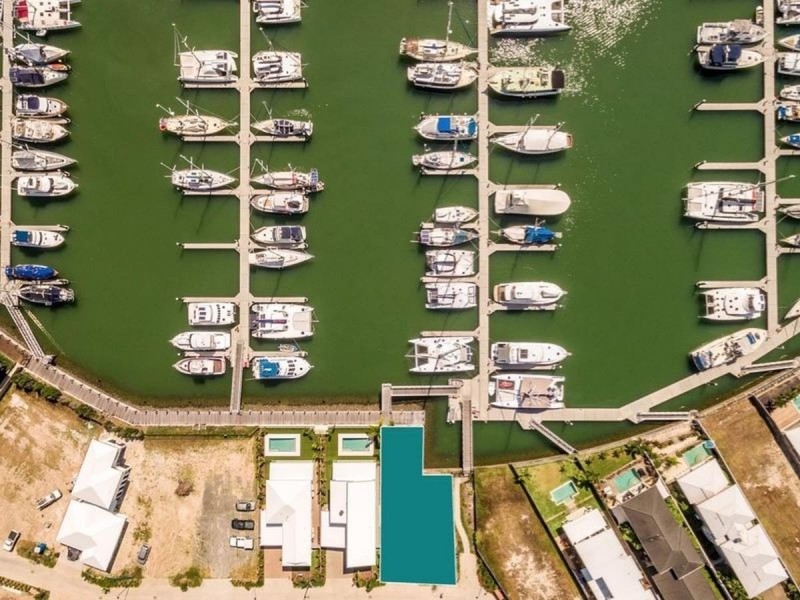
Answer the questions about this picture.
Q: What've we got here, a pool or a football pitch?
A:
pool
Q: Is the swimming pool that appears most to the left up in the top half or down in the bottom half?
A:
bottom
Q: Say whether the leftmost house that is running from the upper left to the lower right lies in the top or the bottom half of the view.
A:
bottom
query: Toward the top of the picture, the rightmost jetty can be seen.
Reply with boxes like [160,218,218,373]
[695,0,800,331]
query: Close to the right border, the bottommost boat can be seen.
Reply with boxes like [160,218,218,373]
[688,323,772,377]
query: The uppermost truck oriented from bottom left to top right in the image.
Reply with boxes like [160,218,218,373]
[31,488,64,512]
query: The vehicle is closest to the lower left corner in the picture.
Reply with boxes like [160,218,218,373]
[3,528,22,552]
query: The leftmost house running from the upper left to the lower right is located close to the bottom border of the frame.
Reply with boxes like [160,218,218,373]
[562,506,657,600]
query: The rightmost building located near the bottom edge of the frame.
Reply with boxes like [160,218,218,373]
[673,457,789,599]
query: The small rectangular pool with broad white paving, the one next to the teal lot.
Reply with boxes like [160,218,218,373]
[338,434,374,456]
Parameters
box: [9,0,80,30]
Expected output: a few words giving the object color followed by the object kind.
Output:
white boat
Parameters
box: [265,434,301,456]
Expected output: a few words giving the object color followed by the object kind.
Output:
white swimming pool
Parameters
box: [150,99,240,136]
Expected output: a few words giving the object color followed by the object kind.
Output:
white boat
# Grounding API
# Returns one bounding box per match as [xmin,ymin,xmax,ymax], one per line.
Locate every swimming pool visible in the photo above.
[265,434,301,456]
[549,480,579,505]
[682,441,714,466]
[338,434,374,456]
[611,466,643,495]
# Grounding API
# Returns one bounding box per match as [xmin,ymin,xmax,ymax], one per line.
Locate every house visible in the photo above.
[562,506,657,600]
[775,416,800,470]
[260,460,314,567]
[321,459,377,569]
[56,438,135,573]
[673,457,789,599]
[611,479,732,600]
